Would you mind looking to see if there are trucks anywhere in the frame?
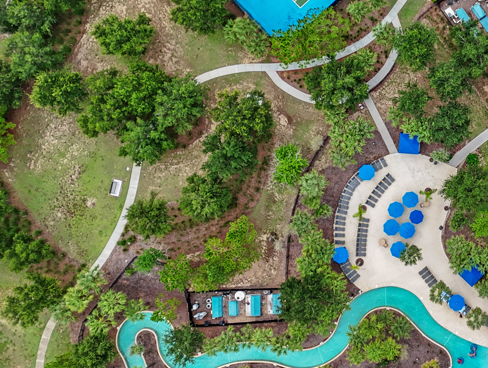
No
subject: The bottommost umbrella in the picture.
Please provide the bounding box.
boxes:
[448,293,465,311]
